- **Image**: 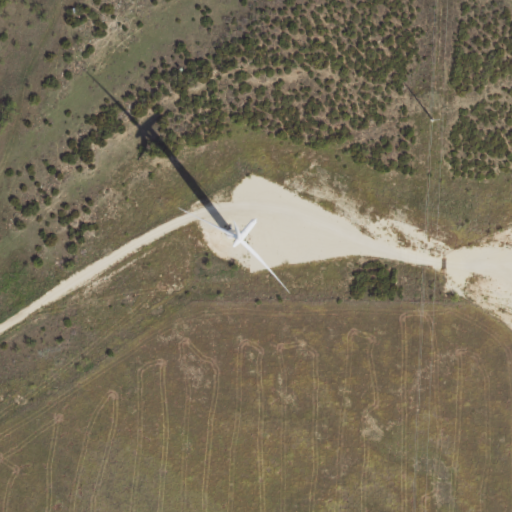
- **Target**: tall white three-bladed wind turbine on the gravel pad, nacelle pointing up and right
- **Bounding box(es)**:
[186,208,293,288]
